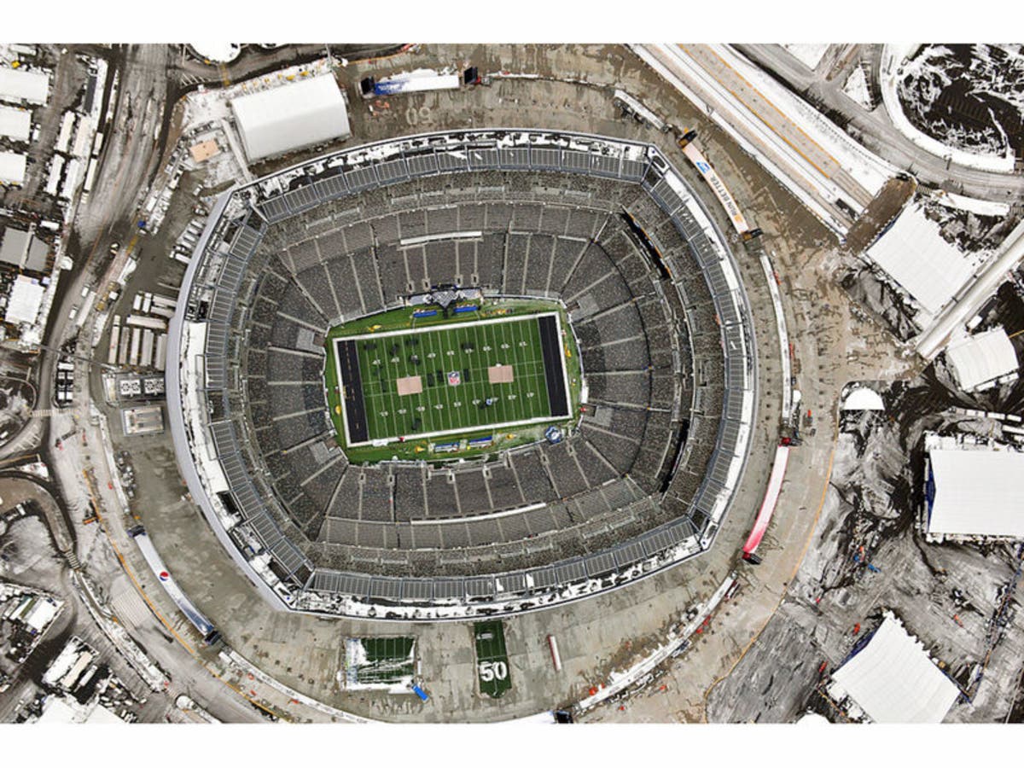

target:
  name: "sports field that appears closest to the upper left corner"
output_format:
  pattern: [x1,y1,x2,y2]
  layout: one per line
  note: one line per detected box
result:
[324,291,583,465]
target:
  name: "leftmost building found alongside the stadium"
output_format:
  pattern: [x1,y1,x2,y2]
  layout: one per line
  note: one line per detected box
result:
[121,407,163,436]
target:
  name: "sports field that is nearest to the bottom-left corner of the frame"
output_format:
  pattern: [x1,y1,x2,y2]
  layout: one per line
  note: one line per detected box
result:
[345,638,421,693]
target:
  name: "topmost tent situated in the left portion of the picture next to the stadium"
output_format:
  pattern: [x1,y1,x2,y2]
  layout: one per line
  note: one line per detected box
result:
[232,72,351,160]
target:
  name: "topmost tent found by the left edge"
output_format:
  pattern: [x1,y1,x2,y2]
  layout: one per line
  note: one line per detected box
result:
[0,69,49,104]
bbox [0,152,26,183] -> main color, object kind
white tent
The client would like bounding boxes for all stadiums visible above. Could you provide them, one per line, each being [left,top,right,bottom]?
[166,129,756,620]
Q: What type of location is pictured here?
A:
sports ground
